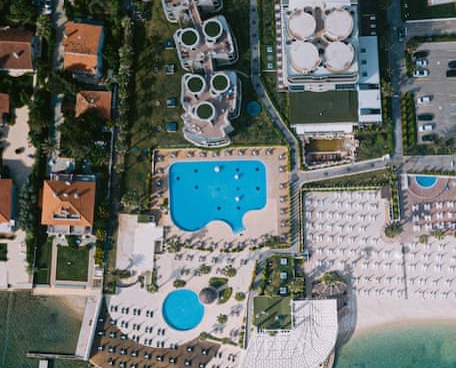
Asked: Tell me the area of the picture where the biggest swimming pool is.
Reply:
center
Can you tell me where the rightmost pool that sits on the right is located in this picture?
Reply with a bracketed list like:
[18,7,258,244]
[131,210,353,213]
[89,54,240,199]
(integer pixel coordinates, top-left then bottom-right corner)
[414,176,439,189]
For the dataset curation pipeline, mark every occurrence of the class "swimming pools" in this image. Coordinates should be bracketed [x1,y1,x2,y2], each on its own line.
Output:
[166,157,269,234]
[414,176,439,189]
[160,287,206,333]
